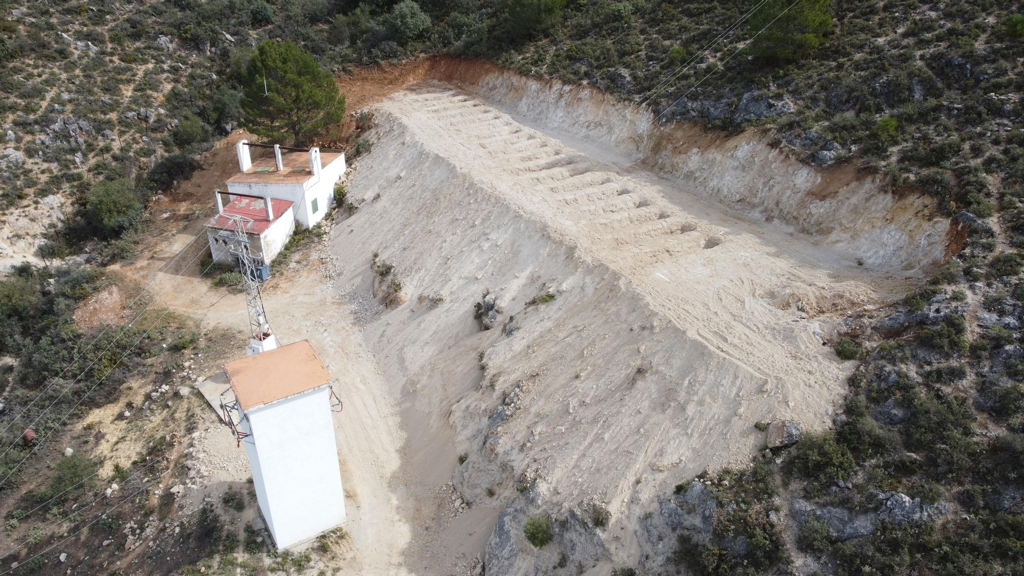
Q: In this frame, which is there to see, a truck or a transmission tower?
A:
transmission tower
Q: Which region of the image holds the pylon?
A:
left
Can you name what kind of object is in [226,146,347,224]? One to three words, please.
house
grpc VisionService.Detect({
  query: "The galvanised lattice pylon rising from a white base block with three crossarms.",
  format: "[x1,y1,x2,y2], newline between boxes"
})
[210,219,274,359]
